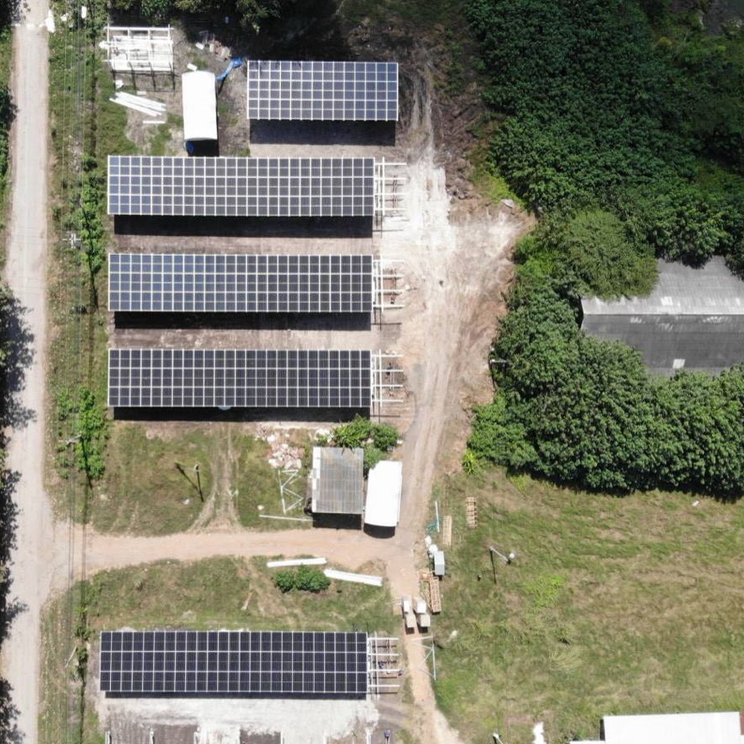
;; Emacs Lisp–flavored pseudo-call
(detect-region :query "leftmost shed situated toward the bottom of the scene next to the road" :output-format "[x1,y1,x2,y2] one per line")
[312,448,363,515]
